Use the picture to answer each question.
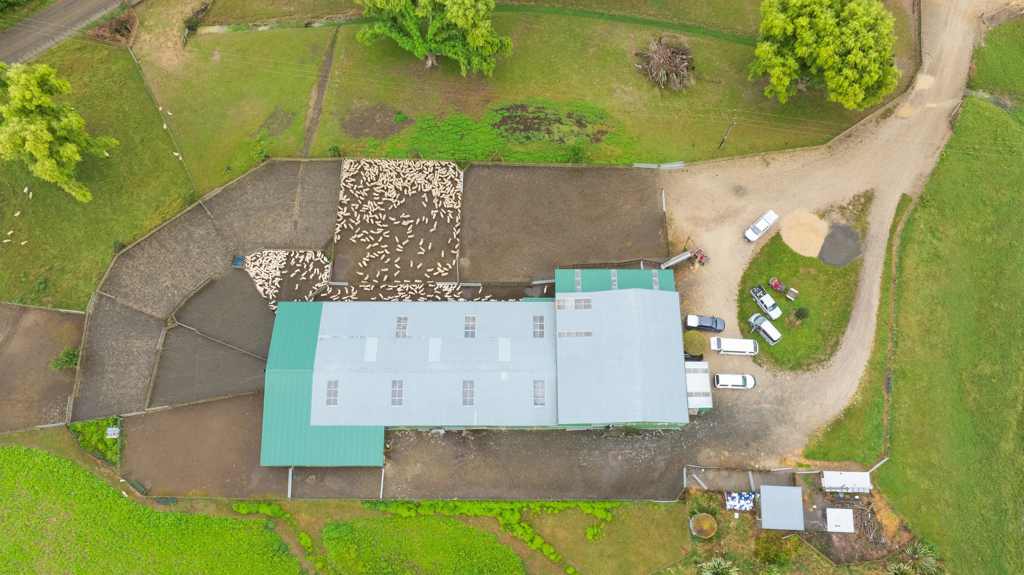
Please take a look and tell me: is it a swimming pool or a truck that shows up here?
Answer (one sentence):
There is a truck in the scene.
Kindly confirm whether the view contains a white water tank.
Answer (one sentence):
No, there's no white water tank here.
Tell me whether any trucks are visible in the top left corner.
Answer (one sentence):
No, looking in the top left corner, there is no truck.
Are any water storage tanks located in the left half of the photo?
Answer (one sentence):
No, I see no water storage tank in the left half of the photo.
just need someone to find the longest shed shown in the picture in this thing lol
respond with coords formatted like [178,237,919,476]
[260,268,690,467]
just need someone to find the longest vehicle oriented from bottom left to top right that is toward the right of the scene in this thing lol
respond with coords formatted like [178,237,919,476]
[744,210,779,242]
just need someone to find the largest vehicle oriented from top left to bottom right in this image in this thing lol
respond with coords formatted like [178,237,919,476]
[748,284,782,321]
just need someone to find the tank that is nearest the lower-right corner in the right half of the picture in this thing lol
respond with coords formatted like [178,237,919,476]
[687,509,717,540]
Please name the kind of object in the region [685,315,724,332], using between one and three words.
vehicle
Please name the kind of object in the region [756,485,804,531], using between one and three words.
shed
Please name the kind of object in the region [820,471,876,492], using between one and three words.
building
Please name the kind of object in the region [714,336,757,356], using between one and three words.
vehicle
